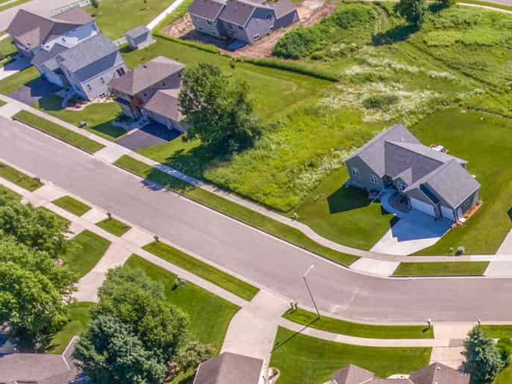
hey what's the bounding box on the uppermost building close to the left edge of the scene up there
[0,8,102,65]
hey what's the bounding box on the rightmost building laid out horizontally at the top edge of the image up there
[189,0,298,52]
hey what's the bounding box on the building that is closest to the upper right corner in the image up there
[344,117,487,223]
